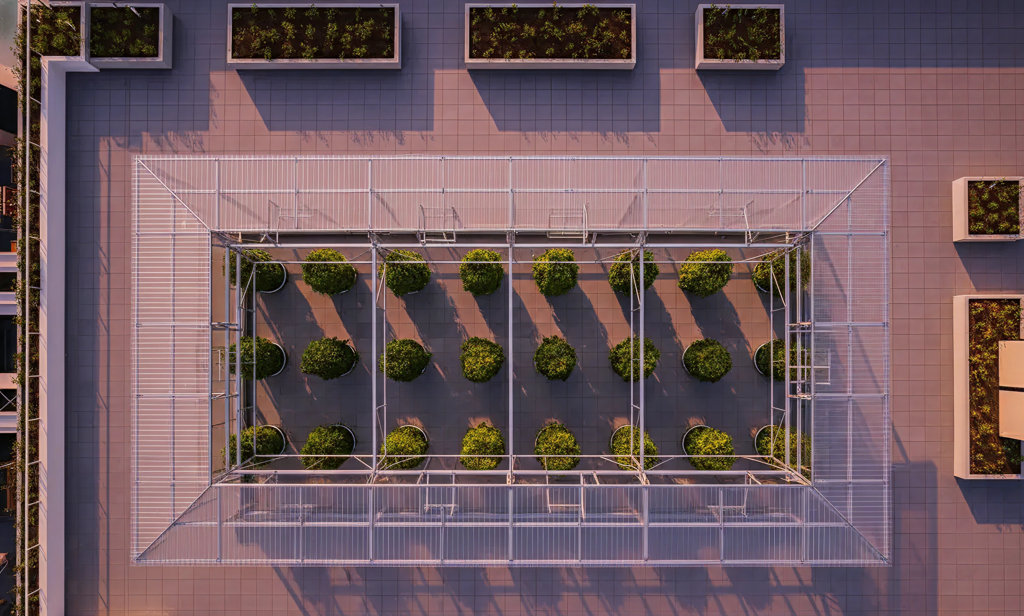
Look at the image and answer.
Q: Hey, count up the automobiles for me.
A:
zero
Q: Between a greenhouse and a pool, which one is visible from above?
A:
greenhouse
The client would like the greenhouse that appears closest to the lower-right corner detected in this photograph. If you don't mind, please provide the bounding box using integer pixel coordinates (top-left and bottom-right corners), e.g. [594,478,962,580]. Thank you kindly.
[129,152,895,570]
